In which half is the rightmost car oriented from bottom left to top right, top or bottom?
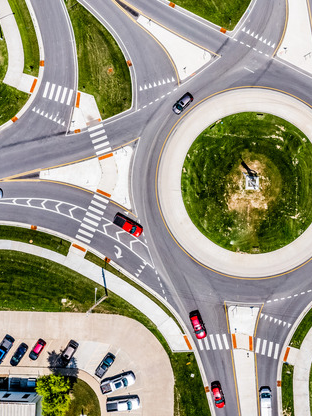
top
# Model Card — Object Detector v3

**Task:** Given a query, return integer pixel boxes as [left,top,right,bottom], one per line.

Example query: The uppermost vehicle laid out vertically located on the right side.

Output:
[191,310,206,338]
